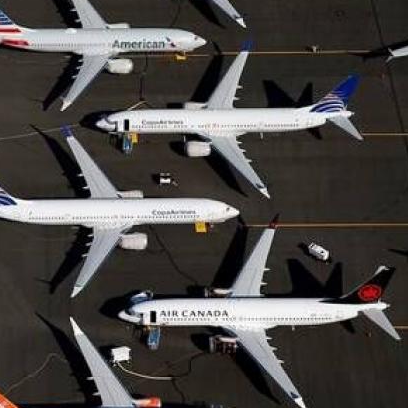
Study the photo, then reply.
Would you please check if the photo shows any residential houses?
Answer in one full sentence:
No, no residential house is visible in the view.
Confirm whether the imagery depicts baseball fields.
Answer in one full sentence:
No, I can see no baseball field in this picture.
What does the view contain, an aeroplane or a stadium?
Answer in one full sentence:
There is an aeroplane in the scene.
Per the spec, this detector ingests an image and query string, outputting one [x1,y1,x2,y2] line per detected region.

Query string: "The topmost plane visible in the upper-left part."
[0,0,208,108]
